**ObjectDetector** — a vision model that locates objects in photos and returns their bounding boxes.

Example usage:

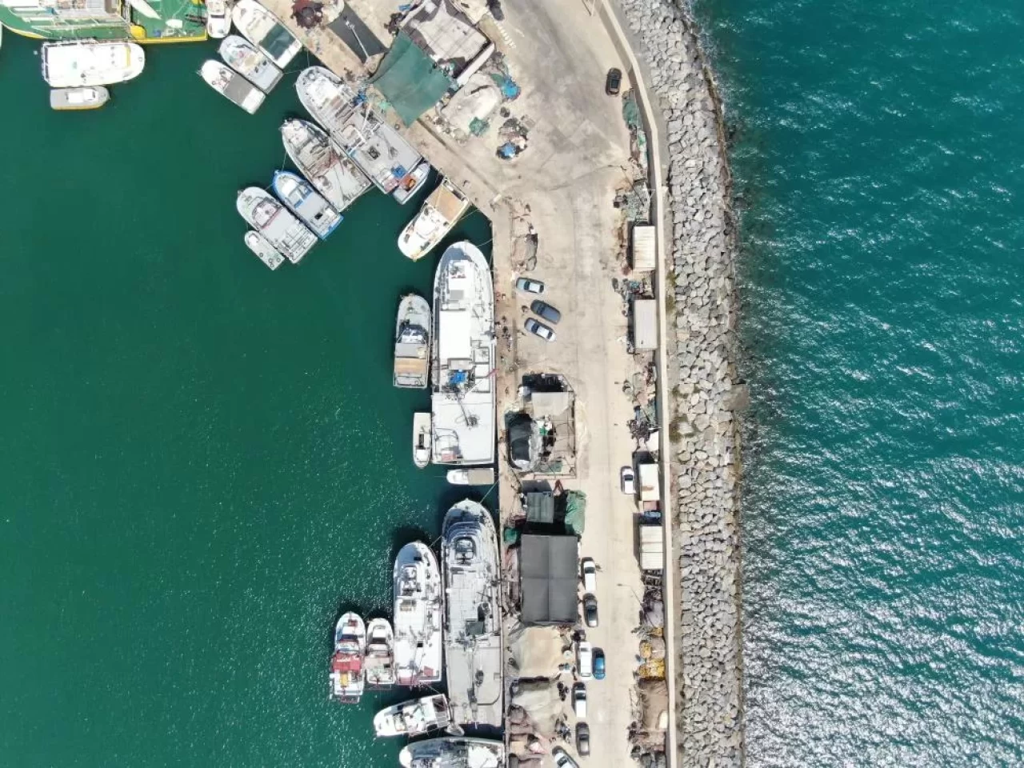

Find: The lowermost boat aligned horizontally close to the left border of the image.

[50,87,110,111]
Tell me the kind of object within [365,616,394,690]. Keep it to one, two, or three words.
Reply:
boat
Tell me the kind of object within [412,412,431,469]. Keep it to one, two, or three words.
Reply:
boat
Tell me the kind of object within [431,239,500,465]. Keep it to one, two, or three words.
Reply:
ship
